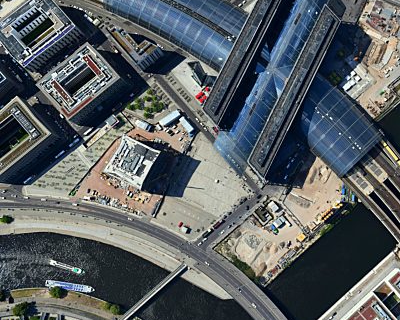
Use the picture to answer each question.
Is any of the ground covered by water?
Yes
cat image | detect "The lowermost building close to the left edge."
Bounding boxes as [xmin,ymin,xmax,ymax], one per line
[0,97,59,184]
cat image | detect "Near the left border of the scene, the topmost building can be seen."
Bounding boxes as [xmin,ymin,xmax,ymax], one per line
[0,0,82,71]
